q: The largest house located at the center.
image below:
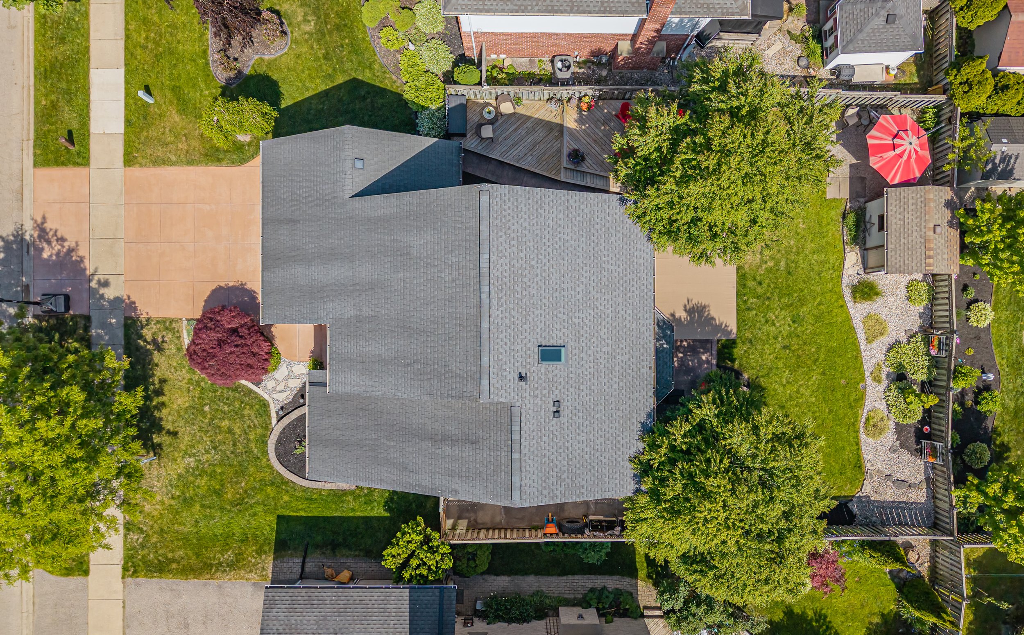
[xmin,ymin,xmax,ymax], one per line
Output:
[258,127,675,508]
